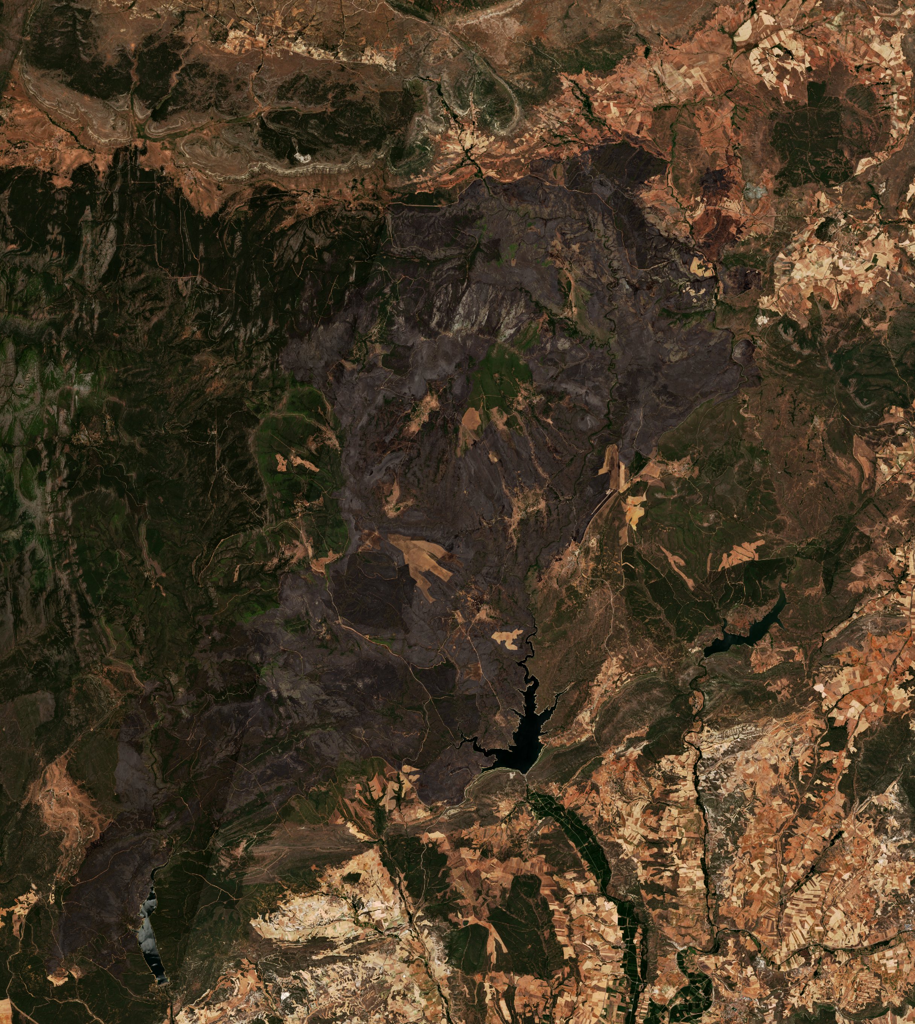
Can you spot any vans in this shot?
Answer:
No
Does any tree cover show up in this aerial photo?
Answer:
Yes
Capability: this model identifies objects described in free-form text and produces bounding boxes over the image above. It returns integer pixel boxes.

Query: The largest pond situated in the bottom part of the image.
[447,608,571,774]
